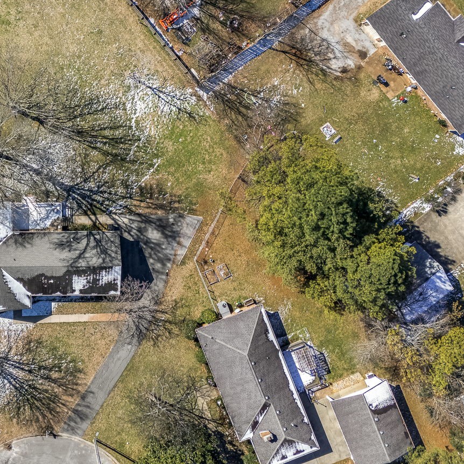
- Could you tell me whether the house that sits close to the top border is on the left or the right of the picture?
right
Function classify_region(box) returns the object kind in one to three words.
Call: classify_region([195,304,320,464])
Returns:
house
